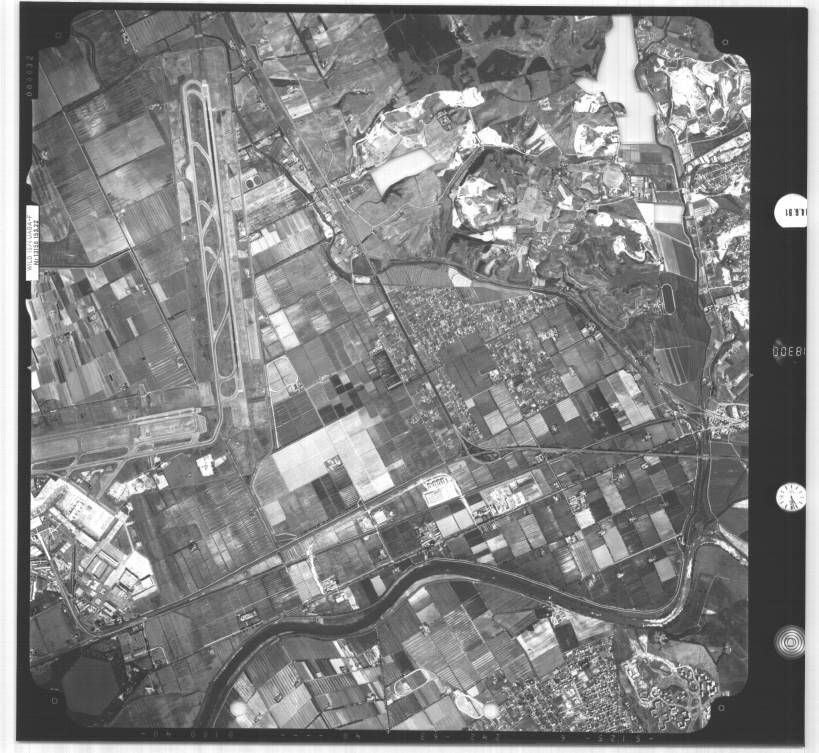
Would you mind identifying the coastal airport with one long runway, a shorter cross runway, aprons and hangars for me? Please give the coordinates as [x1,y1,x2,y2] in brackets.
[0,79,270,601]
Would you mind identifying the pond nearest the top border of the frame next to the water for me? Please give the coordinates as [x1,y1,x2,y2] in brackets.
[575,0,657,143]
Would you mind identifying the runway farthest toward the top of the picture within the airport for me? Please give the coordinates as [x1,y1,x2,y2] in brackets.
[202,83,246,394]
